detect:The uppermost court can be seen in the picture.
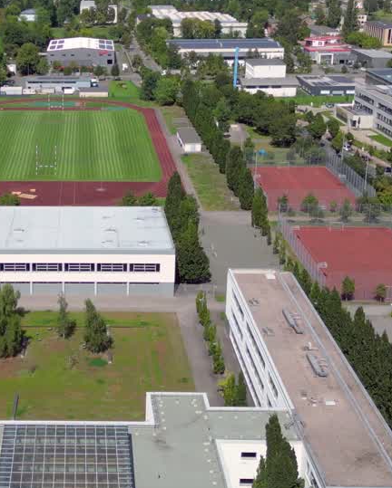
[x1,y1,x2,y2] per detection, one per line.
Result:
[247,166,358,211]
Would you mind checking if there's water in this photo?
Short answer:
No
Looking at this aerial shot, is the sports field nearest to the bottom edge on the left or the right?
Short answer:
left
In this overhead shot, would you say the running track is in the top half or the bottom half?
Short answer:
top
